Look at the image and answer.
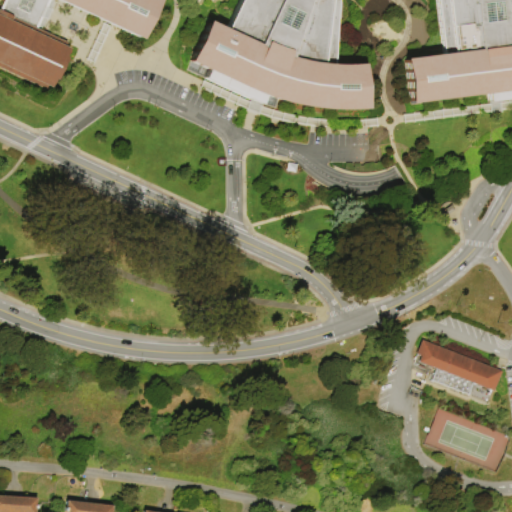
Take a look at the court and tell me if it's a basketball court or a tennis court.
tennis court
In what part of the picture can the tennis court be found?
bottom right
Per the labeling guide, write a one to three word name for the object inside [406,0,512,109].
building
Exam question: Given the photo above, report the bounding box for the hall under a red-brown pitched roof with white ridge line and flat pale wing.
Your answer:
[0,0,72,87]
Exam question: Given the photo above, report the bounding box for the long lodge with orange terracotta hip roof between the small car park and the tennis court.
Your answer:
[414,338,504,390]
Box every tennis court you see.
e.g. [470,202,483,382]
[426,408,508,472]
